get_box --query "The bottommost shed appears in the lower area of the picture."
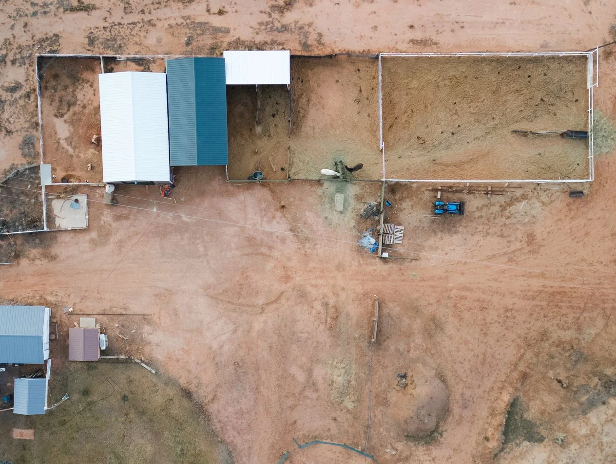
[13,377,49,415]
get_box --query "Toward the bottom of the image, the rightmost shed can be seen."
[68,327,101,360]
